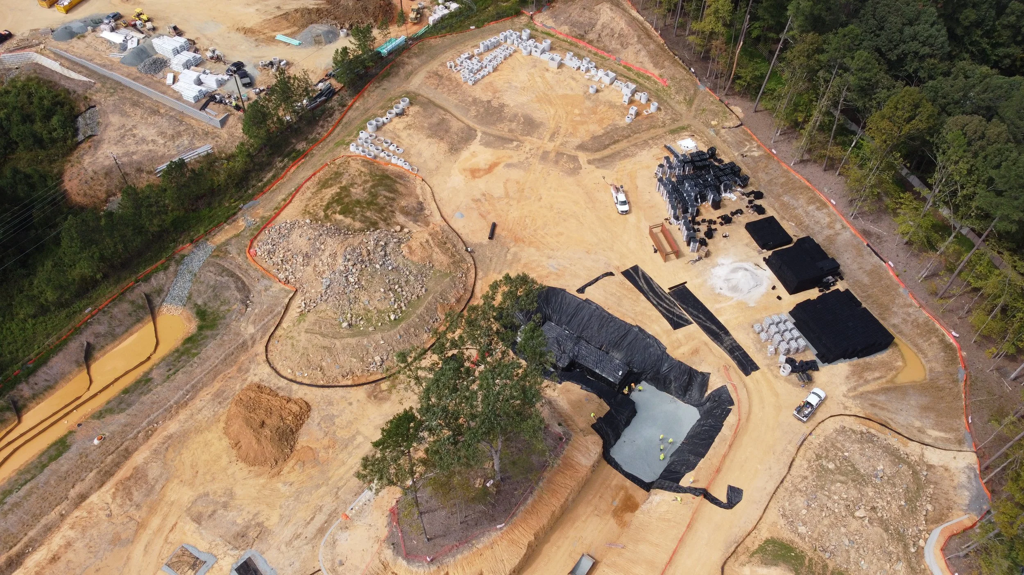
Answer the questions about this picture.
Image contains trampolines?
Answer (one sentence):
No, there is no trampoline in the image.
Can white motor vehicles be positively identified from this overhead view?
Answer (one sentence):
Yes, looking at the shot, I can spot a white motor vehicle.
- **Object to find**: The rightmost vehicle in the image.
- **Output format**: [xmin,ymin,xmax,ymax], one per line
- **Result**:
[797,386,825,421]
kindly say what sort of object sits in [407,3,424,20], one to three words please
work vehicle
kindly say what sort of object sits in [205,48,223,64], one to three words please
work vehicle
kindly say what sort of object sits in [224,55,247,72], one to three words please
vehicle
